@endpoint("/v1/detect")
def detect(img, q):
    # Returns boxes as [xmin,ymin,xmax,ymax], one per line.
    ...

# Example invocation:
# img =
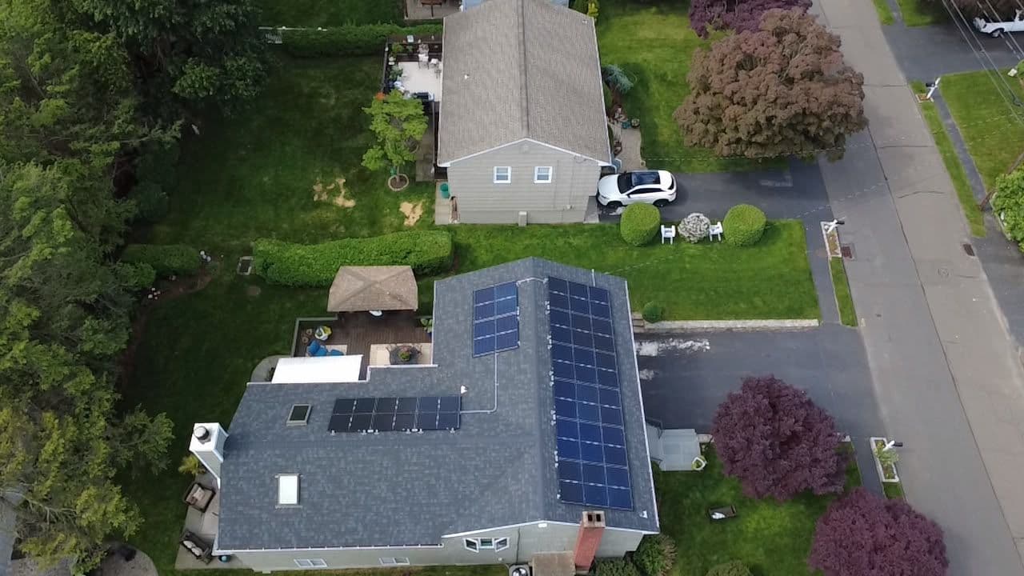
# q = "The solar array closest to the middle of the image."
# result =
[471,279,523,354]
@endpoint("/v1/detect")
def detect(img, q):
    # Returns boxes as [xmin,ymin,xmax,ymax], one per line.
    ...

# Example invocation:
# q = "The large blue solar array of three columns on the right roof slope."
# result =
[545,276,635,509]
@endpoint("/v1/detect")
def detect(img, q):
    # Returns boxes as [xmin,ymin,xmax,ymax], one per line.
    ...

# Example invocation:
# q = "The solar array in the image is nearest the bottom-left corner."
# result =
[329,395,462,435]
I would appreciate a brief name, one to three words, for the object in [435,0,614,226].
house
